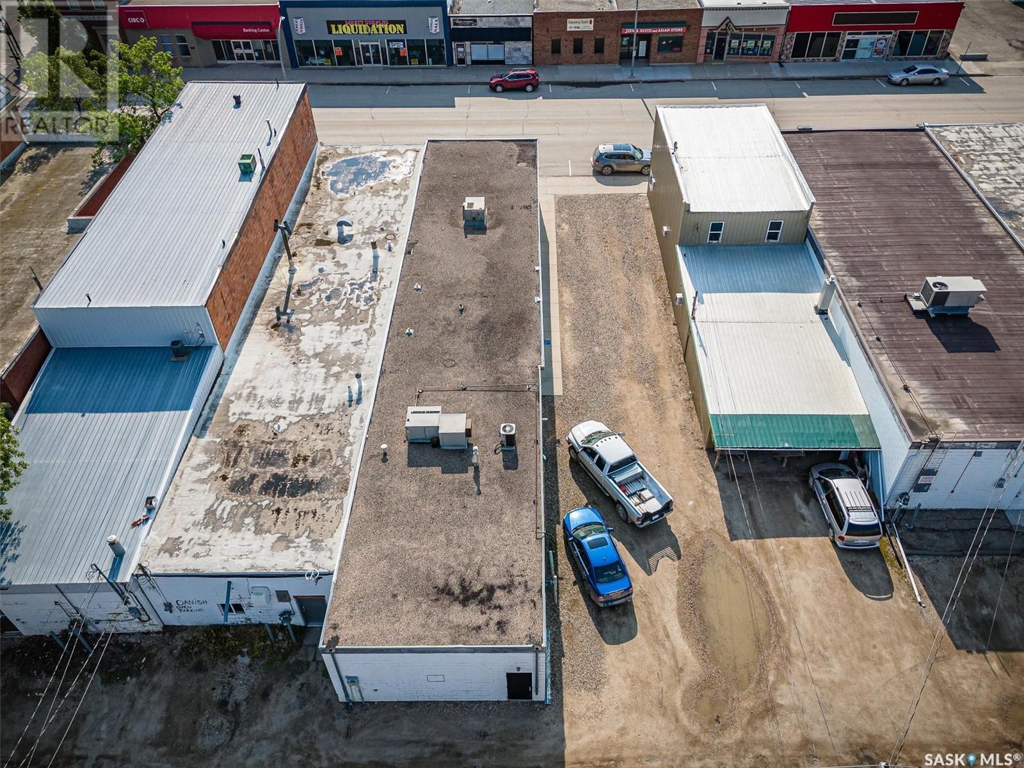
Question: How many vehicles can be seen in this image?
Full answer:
The number of vehicles here is 6.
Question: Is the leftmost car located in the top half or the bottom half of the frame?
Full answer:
The leftmost car is in the top half of the image.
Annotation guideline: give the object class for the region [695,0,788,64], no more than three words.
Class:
building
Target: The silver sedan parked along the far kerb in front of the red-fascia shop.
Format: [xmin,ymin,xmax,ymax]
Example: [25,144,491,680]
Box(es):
[886,61,951,85]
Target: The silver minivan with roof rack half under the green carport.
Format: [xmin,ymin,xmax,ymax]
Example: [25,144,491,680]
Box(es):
[810,462,890,557]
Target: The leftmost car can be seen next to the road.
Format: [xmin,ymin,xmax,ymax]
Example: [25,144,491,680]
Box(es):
[487,63,539,90]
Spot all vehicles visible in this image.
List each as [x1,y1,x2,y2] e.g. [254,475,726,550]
[886,61,951,85]
[560,420,675,534]
[487,63,539,90]
[564,508,639,607]
[593,139,652,173]
[810,462,890,557]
